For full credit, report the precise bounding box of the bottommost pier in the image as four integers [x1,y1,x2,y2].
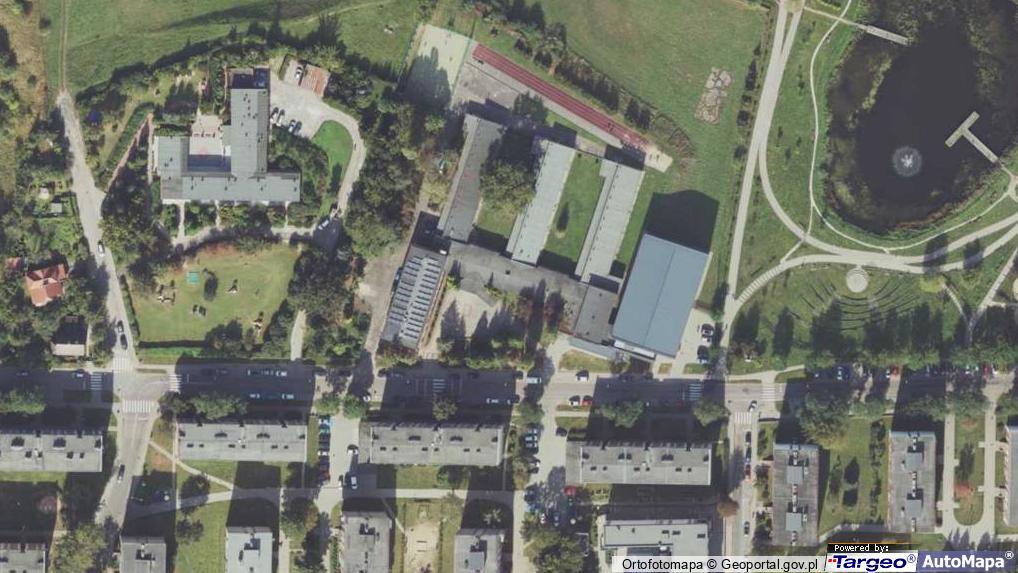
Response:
[945,111,998,163]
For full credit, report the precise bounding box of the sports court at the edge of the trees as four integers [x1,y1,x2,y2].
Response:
[406,25,469,113]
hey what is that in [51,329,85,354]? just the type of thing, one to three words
house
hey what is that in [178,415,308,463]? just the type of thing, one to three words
building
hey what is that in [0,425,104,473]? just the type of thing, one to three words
building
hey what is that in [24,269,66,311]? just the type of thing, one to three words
house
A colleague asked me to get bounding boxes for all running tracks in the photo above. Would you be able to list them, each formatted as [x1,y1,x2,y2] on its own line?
[473,42,647,156]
